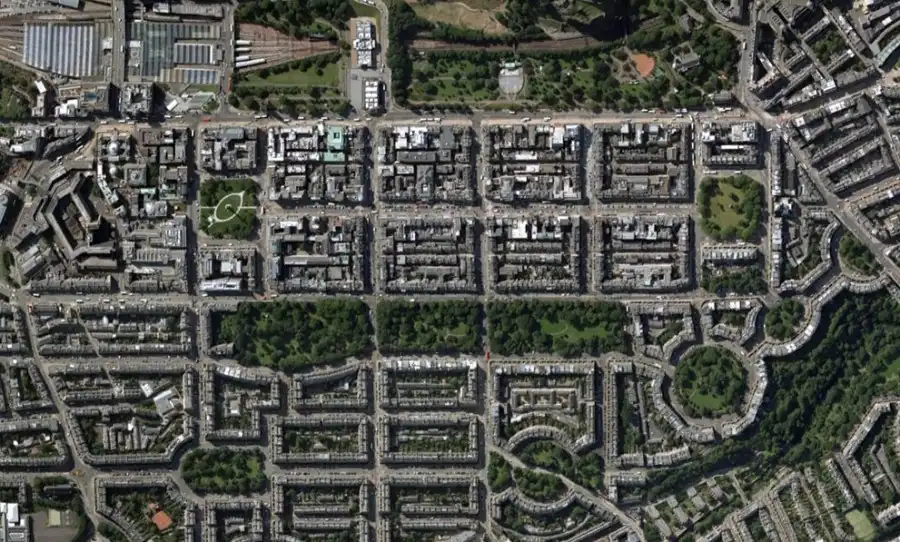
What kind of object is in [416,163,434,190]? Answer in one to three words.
building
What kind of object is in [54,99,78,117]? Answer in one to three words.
house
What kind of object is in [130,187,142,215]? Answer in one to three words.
building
